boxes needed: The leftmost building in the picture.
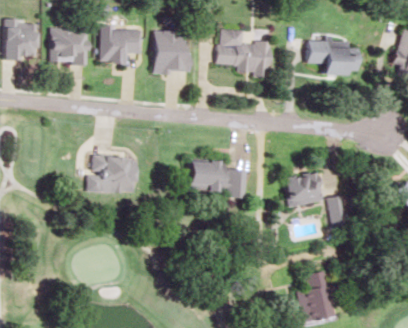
[4,18,40,60]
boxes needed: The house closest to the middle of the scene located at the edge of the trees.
[193,161,247,198]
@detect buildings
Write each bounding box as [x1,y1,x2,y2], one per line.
[326,196,344,225]
[288,172,324,208]
[193,161,247,198]
[298,271,338,328]
[390,28,408,78]
[50,27,91,65]
[154,31,192,75]
[216,30,274,78]
[305,37,362,76]
[4,18,40,60]
[100,26,141,66]
[84,156,140,194]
